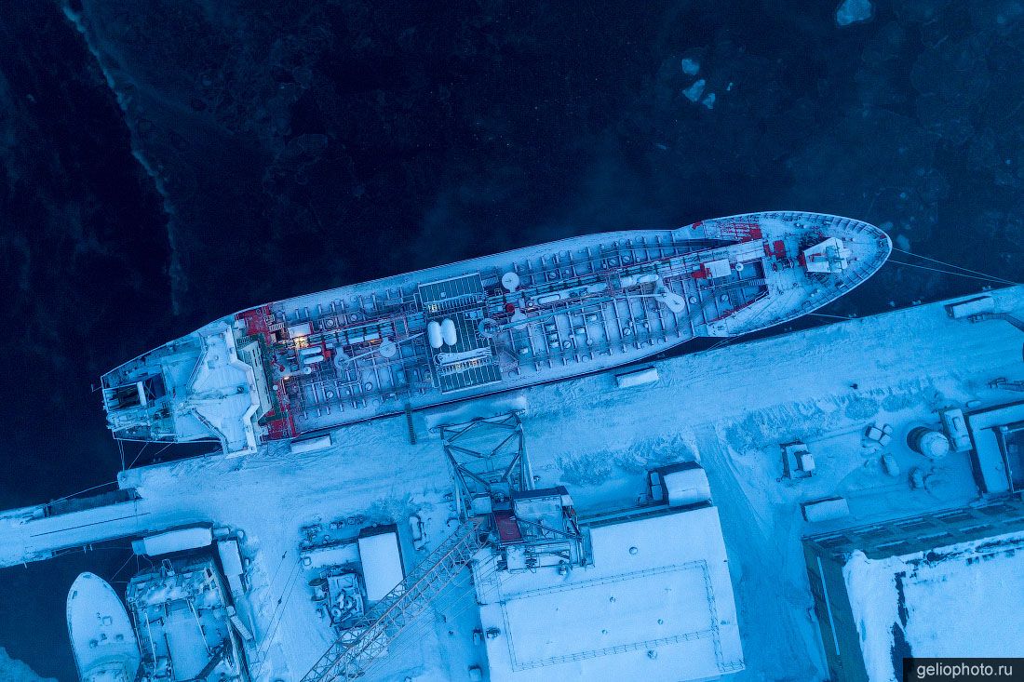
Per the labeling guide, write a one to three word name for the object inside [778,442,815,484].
trailer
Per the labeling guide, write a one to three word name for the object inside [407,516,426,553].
vehicle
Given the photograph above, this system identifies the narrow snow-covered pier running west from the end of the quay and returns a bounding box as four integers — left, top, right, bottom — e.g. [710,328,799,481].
[0,491,149,569]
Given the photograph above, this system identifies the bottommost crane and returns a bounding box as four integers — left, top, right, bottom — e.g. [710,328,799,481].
[283,407,593,682]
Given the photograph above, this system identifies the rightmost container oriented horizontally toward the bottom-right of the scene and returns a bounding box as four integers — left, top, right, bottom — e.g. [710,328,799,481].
[799,495,849,522]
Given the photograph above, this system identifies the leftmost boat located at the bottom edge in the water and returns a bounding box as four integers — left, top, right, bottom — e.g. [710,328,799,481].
[67,571,141,682]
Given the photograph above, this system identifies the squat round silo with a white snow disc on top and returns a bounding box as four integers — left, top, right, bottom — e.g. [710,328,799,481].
[904,427,951,460]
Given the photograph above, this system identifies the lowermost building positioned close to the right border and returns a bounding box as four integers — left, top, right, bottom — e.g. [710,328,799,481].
[805,498,1024,682]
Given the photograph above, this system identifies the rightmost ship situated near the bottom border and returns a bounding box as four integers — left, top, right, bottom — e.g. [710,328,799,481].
[127,553,255,682]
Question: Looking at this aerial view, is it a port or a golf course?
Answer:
port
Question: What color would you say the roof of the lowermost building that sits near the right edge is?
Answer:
blue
